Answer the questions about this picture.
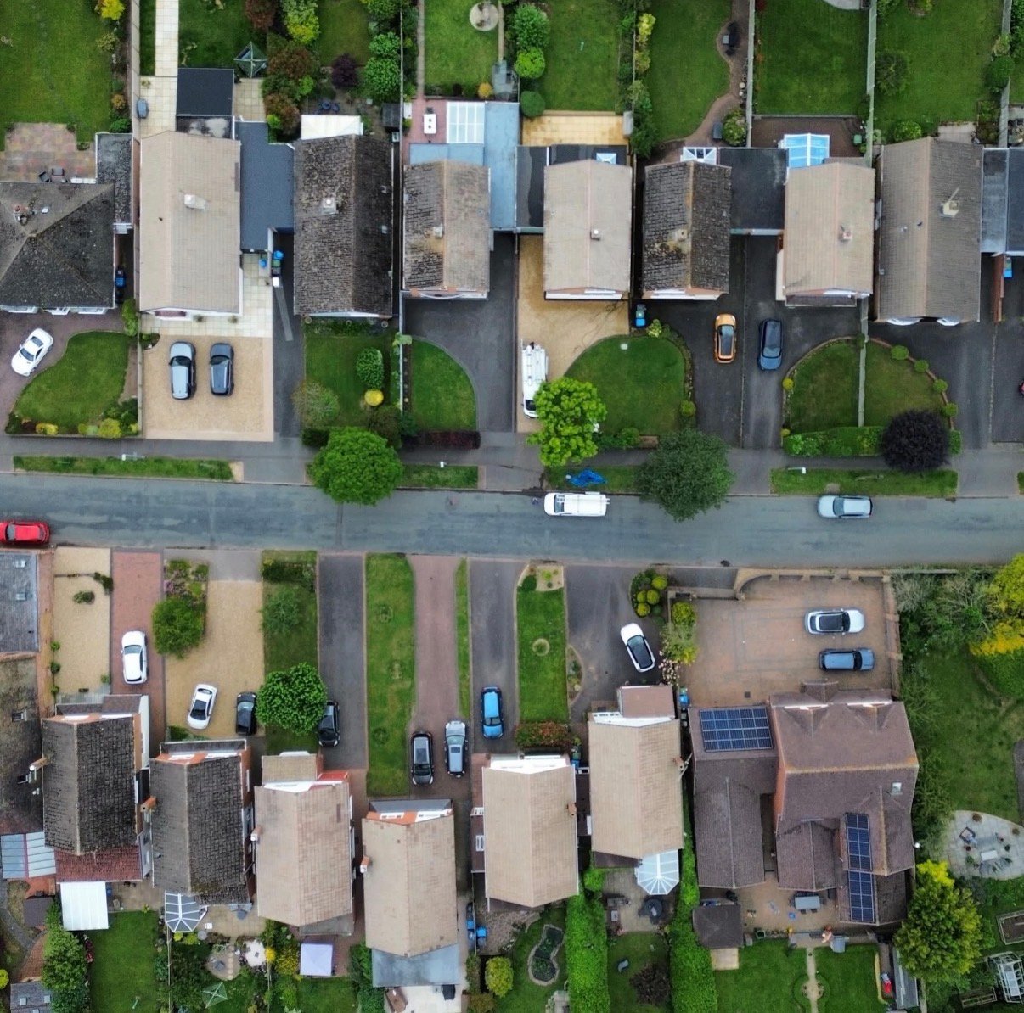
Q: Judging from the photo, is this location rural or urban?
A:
urban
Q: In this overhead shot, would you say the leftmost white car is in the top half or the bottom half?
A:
top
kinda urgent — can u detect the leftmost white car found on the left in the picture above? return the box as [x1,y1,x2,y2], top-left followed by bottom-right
[11,327,57,378]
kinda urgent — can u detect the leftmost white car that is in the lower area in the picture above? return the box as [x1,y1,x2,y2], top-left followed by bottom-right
[119,629,149,684]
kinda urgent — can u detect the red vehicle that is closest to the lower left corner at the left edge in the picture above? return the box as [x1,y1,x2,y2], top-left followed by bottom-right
[0,520,52,547]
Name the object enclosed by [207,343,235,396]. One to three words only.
car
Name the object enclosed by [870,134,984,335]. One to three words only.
house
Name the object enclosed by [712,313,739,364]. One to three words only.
car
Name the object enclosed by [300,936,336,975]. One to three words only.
gazebo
